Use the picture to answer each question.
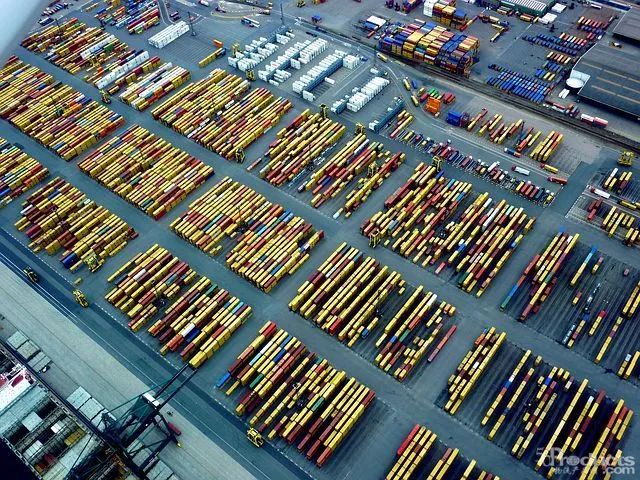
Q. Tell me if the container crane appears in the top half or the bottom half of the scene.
bottom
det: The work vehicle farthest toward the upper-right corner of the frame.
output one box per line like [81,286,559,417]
[618,148,634,166]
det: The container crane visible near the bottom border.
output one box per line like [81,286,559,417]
[52,362,199,480]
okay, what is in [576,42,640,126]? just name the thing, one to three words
building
